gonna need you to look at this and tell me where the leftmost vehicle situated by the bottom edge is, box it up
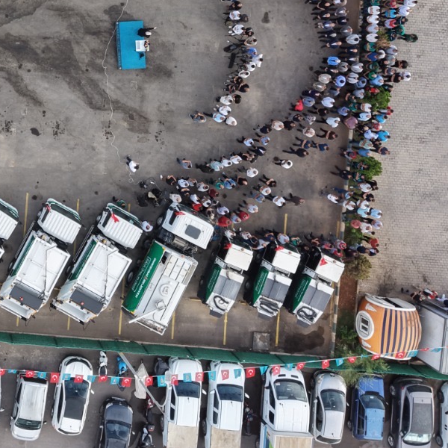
[12,371,47,442]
